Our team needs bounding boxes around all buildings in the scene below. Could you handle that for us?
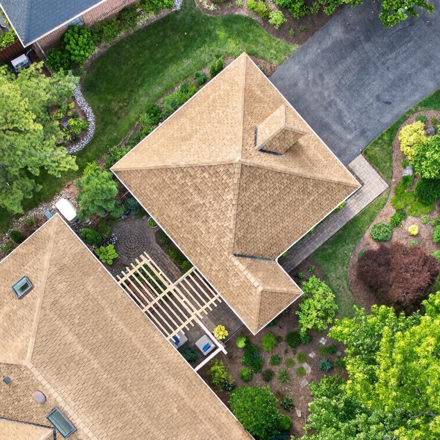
[0,212,256,440]
[0,0,125,53]
[110,50,363,336]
